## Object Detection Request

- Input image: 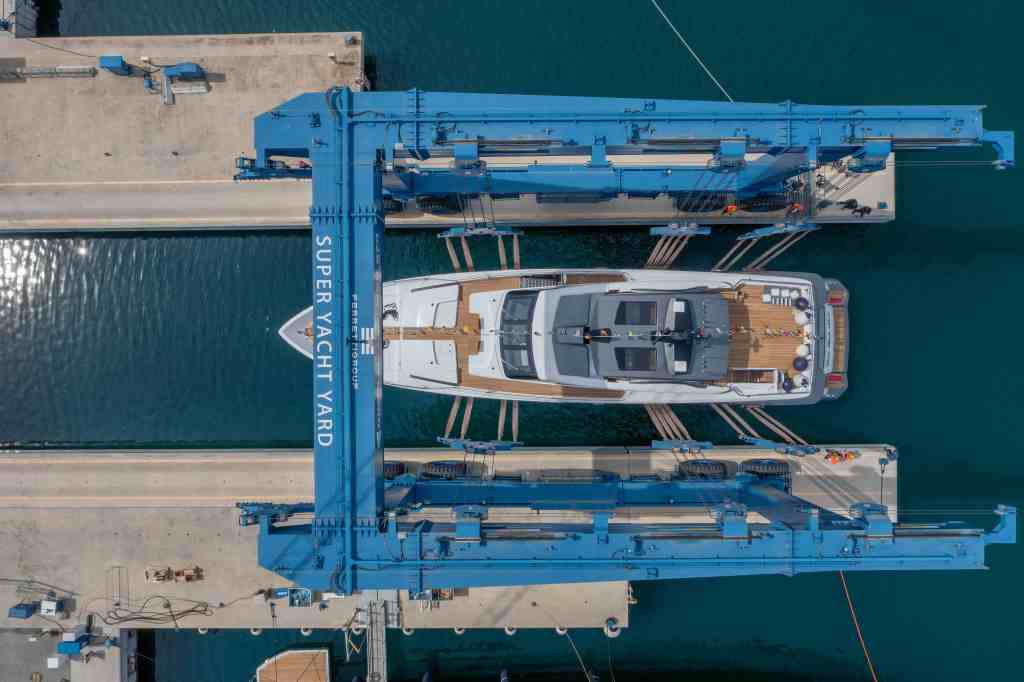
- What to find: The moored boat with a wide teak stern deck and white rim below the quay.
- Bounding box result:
[256,640,333,682]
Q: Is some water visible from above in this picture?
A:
Yes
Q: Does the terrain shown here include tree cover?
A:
No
